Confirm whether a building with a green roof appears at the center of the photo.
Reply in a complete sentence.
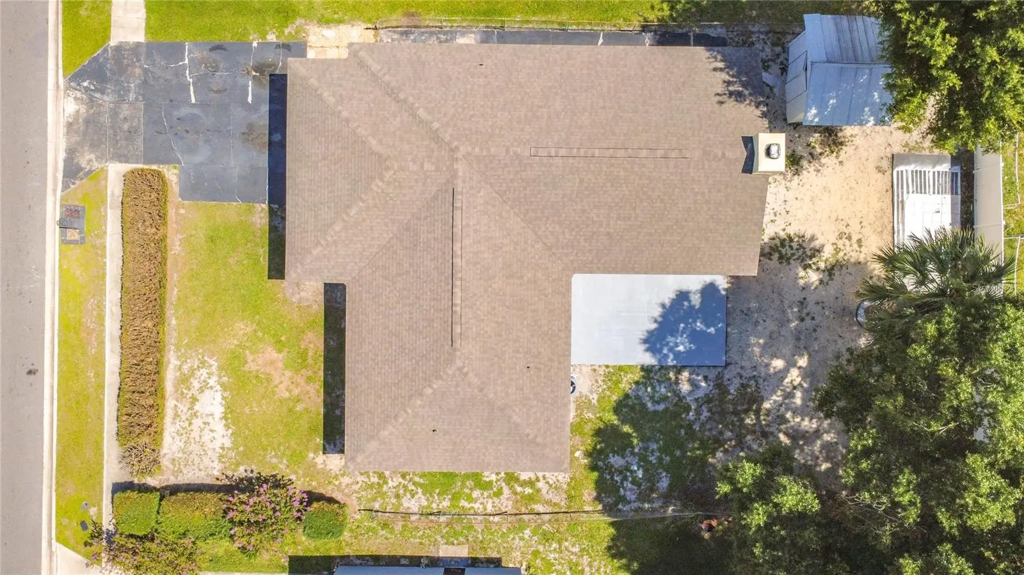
No, at the center of the photo there is no building with a green roof.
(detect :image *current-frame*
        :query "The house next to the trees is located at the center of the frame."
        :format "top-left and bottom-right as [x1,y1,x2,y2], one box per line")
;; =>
[286,45,784,472]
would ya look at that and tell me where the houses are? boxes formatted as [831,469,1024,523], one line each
[286,45,784,472]
[331,564,522,575]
